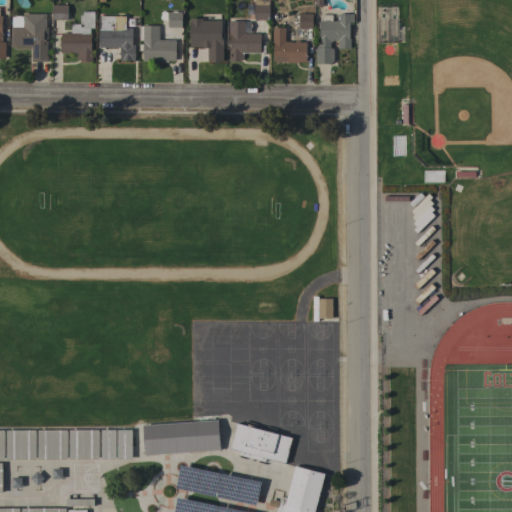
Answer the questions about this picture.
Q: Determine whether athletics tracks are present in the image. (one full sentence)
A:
Yes, an athletics track appears in the view.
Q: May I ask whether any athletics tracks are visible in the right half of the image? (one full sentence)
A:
Yes, you'll find an athletics track in the right half of the image.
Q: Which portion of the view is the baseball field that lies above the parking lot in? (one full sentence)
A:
The baseball field that lies above the parking lot appears toward the top right of the photo.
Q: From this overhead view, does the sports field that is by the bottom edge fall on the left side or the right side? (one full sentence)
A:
The sports field that is by the bottom edge sits on the right side.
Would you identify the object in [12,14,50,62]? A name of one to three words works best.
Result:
house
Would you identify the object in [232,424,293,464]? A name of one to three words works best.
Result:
building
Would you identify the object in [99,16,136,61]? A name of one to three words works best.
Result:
house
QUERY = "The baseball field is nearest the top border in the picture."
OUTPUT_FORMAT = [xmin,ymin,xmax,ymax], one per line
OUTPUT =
[414,56,512,167]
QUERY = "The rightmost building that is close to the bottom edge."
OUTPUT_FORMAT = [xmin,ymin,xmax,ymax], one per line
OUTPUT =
[284,466,326,512]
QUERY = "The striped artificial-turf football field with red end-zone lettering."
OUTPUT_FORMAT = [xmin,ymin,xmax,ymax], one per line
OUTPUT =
[445,364,512,512]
